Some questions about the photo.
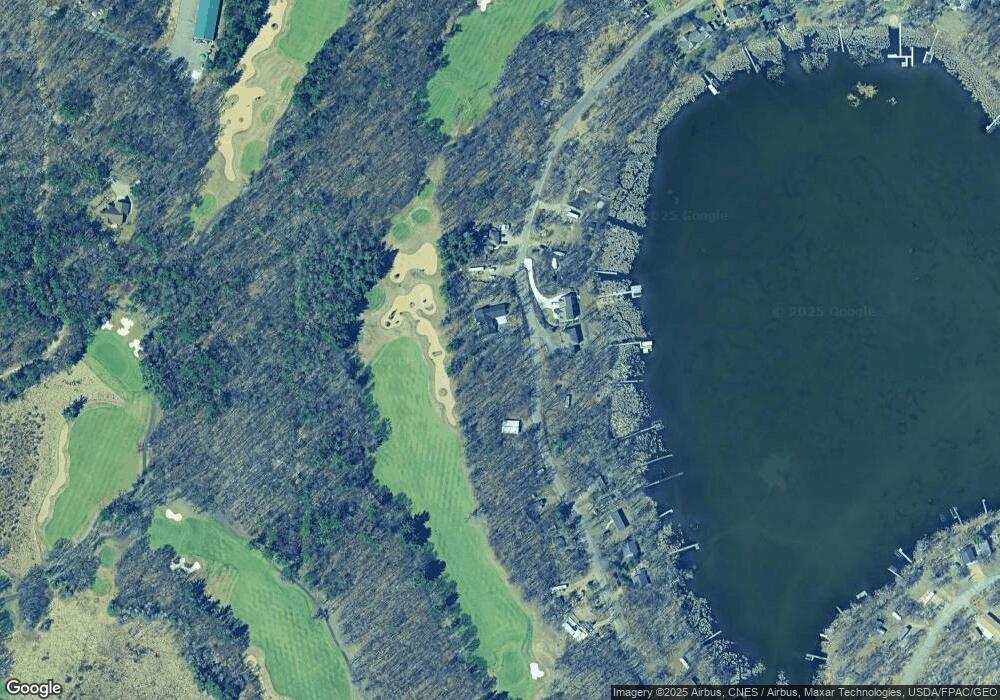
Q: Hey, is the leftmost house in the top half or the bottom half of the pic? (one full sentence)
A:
The top half of the photo is where the leftmost house is.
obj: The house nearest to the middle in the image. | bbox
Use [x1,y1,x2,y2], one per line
[476,303,511,334]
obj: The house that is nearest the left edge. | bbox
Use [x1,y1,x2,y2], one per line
[103,196,134,225]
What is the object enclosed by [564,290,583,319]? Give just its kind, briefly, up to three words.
house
